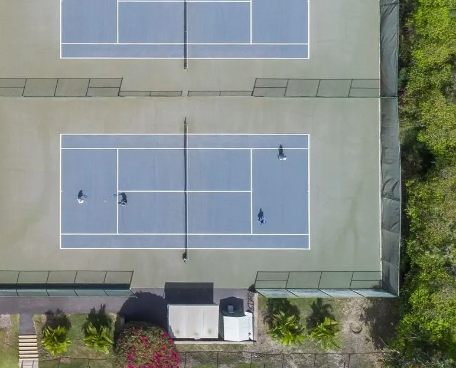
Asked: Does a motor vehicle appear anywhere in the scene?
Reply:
No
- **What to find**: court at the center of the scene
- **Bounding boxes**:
[0,97,382,289]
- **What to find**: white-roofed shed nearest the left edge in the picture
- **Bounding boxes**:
[164,300,219,339]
